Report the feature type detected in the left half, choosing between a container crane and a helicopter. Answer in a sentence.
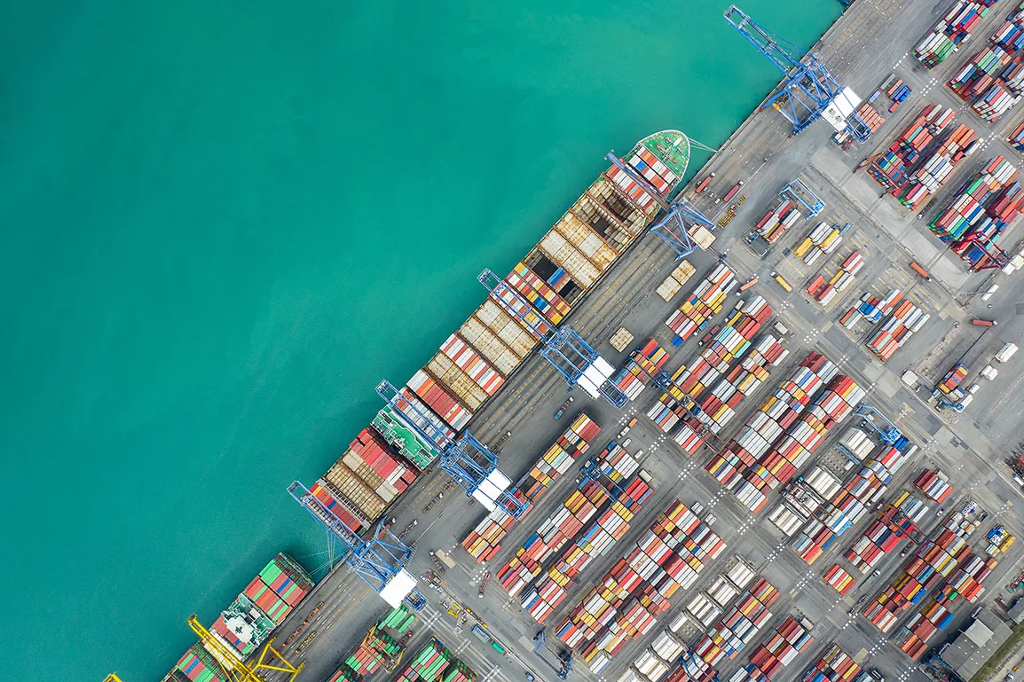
Visible in the left half is a container crane.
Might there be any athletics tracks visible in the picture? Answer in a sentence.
No, I can see no athletics track in this picture.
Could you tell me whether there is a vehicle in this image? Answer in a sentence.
Yes, there is a vehicle in the image.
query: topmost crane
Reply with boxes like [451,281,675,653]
[722,0,876,144]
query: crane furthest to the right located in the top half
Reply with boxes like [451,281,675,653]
[948,231,1011,275]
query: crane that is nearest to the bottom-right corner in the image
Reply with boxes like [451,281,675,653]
[861,496,924,551]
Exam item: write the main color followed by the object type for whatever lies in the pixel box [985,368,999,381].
white vehicle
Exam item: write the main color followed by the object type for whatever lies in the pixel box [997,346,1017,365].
white vehicle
